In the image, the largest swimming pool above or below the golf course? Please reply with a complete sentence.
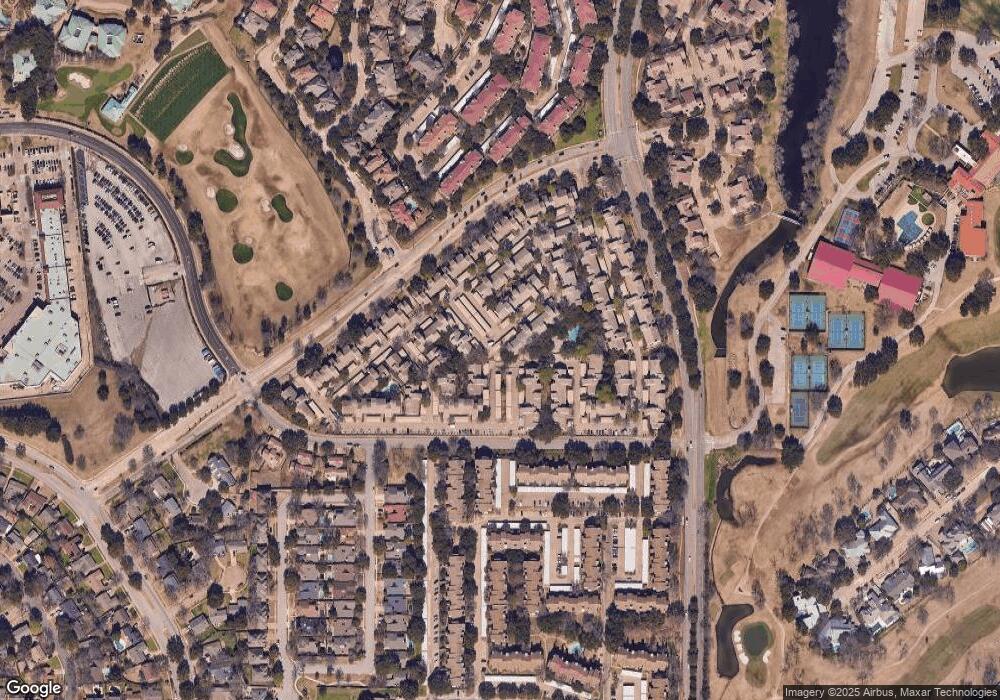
As seen from overhead, the largest swimming pool falls above the golf course in the picture.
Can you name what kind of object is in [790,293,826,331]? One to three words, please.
tennis court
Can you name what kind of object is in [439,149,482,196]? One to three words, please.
building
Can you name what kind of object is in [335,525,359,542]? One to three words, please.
house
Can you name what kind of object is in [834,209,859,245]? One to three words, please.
sports court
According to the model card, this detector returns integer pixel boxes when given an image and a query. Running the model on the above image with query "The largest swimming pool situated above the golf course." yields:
[889,185,943,249]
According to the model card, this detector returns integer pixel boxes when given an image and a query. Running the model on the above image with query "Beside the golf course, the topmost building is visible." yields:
[960,200,987,256]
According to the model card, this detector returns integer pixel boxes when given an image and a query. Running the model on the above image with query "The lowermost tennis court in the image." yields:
[791,392,809,428]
